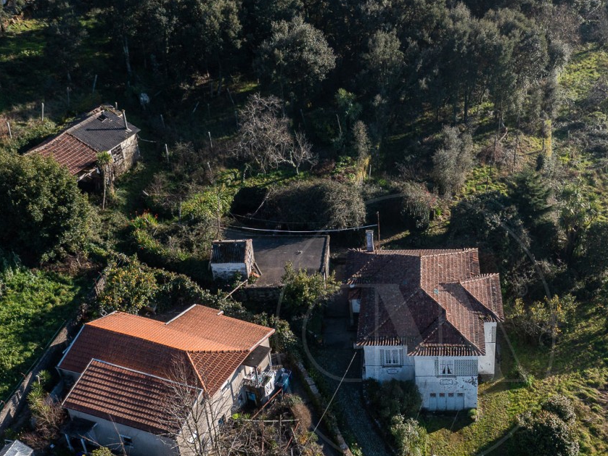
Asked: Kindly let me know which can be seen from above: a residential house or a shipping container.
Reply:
residential house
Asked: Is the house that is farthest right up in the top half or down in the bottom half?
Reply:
bottom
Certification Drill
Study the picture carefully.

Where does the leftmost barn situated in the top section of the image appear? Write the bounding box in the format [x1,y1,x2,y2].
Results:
[16,108,143,184]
